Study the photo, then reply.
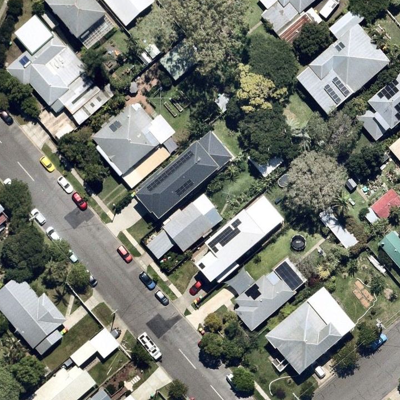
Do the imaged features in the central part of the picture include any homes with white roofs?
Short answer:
Yes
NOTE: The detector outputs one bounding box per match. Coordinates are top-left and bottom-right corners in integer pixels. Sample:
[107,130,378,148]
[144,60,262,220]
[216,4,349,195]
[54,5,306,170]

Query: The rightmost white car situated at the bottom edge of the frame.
[312,361,329,381]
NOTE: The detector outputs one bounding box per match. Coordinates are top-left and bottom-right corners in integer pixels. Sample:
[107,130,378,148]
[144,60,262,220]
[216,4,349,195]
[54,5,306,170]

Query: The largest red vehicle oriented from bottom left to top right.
[186,278,206,297]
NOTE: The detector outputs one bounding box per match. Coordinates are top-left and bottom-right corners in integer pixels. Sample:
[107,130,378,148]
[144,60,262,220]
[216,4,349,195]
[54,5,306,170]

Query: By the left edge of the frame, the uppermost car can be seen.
[0,107,15,127]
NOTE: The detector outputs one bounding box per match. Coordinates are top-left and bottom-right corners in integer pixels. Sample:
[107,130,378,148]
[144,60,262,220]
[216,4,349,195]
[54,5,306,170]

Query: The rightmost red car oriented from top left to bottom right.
[117,244,133,263]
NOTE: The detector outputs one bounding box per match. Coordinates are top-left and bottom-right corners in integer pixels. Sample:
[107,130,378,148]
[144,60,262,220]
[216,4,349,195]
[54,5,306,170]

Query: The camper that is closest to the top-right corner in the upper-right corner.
[319,0,339,18]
